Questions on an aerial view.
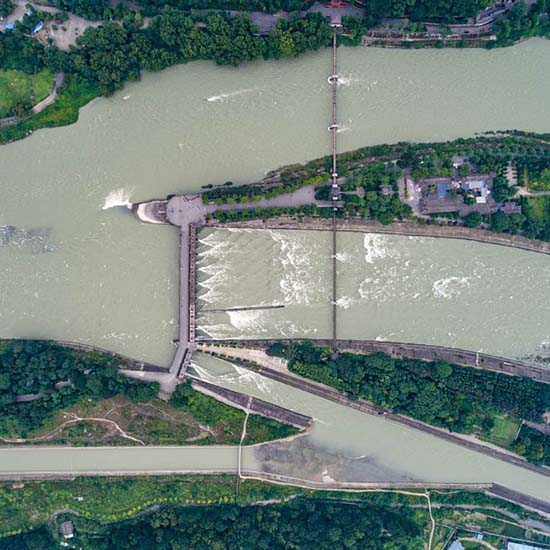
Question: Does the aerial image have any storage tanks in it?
No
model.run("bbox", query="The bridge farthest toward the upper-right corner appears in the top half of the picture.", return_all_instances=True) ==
[327,9,343,360]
